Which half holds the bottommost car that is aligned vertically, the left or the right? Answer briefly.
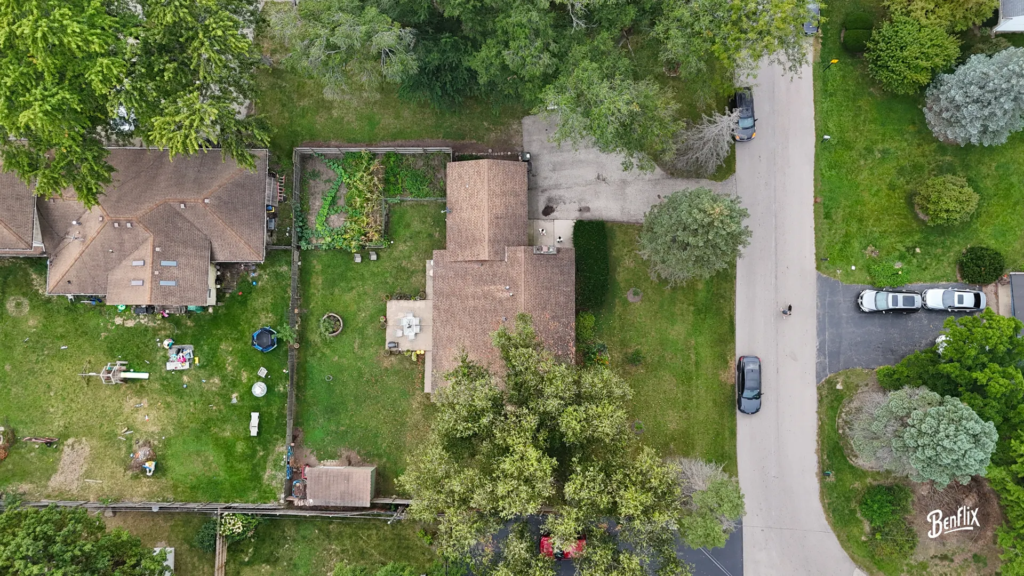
right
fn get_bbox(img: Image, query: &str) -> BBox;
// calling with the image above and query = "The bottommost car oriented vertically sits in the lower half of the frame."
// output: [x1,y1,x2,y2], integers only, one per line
[737,355,766,414]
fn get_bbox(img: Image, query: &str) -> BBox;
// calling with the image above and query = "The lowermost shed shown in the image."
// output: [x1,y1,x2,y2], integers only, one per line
[307,464,377,507]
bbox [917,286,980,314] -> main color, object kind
white car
